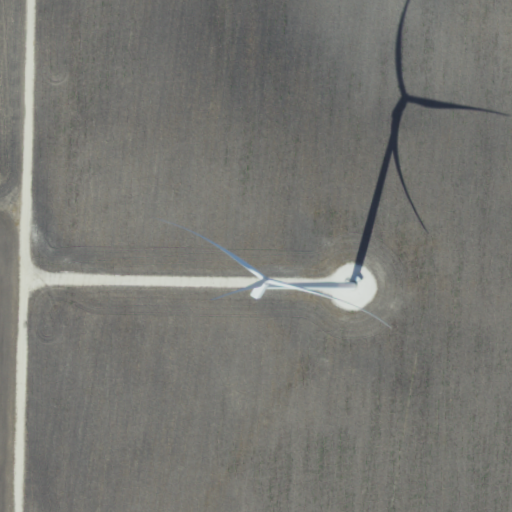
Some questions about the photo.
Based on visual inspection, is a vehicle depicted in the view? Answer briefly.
No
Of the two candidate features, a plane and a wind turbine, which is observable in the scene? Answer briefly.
wind turbine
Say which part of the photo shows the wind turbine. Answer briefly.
center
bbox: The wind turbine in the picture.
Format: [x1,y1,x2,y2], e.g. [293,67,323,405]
[160,218,393,326]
